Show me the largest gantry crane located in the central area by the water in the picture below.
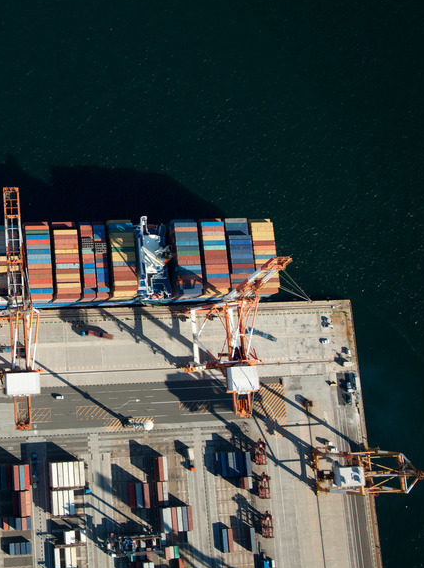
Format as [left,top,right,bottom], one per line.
[173,254,285,418]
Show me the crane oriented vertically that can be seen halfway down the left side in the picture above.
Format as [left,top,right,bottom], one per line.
[0,185,48,430]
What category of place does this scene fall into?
port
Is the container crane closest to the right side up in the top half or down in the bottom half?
bottom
